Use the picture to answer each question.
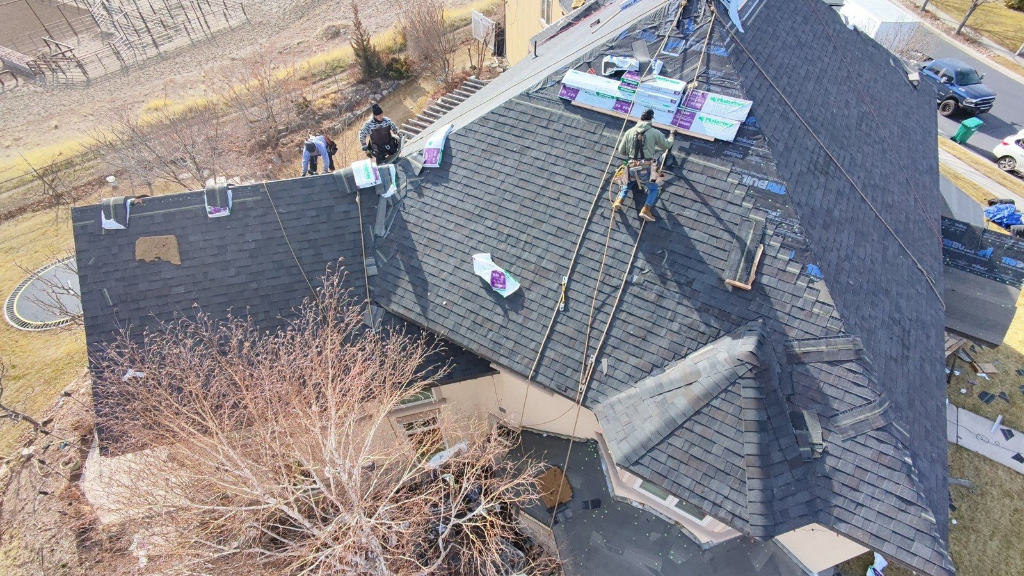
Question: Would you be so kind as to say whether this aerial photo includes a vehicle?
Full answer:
Yes, a vehicle appears in the view.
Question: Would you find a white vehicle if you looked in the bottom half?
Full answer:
No, I can find no white vehicle in the bottom half.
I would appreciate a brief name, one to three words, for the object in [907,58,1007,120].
truck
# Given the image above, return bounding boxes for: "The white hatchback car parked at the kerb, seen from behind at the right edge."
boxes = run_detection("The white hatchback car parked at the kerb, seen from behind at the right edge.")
[999,135,1024,166]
